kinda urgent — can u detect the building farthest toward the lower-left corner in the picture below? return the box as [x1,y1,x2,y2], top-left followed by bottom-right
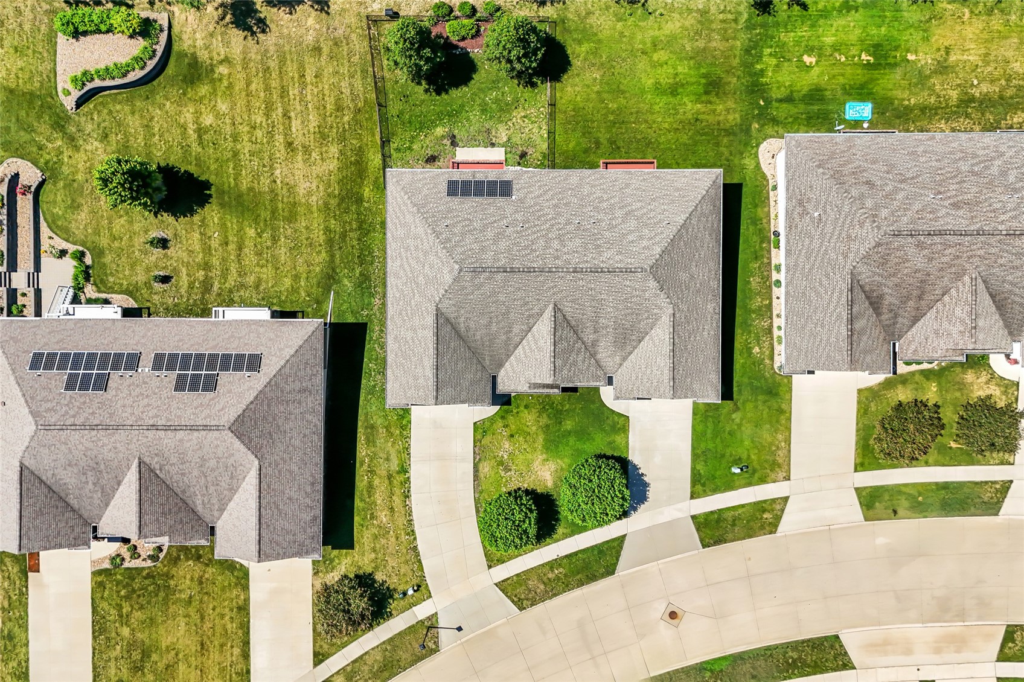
[0,318,329,565]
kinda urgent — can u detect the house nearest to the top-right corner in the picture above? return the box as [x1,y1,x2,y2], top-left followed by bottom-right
[772,132,1024,376]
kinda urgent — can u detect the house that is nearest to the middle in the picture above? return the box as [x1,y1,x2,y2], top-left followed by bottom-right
[384,168,723,408]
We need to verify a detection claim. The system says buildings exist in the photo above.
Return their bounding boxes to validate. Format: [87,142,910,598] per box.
[772,132,1024,376]
[384,168,723,408]
[0,318,329,565]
